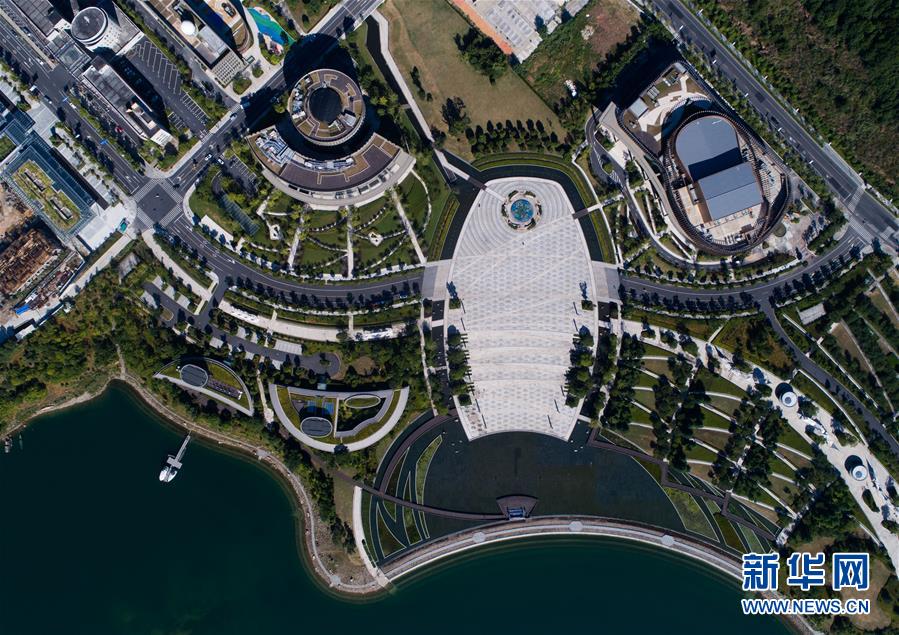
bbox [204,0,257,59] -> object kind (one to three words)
building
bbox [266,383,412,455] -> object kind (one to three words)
building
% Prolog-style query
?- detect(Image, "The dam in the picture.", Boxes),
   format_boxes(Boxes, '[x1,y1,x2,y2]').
[380,516,824,635]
